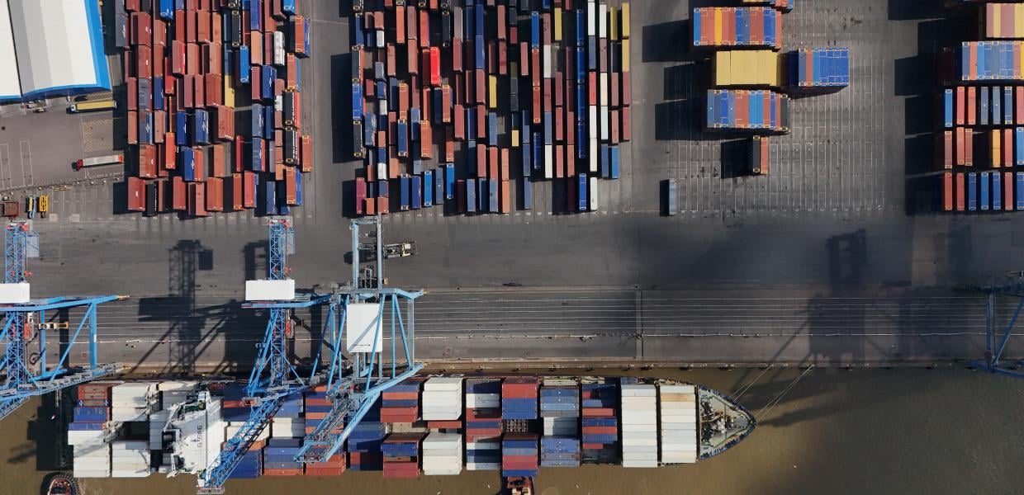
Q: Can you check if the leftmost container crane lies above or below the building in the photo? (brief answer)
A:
below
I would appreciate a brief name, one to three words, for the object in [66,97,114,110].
vehicle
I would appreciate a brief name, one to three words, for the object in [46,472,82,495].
boat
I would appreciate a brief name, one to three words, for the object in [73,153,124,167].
vehicle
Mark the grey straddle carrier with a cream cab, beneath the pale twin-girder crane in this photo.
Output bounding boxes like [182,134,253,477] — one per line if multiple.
[384,239,422,256]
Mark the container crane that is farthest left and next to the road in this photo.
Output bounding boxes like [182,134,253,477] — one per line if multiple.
[0,218,140,420]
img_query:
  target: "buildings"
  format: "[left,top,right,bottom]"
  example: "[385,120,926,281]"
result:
[0,0,117,97]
